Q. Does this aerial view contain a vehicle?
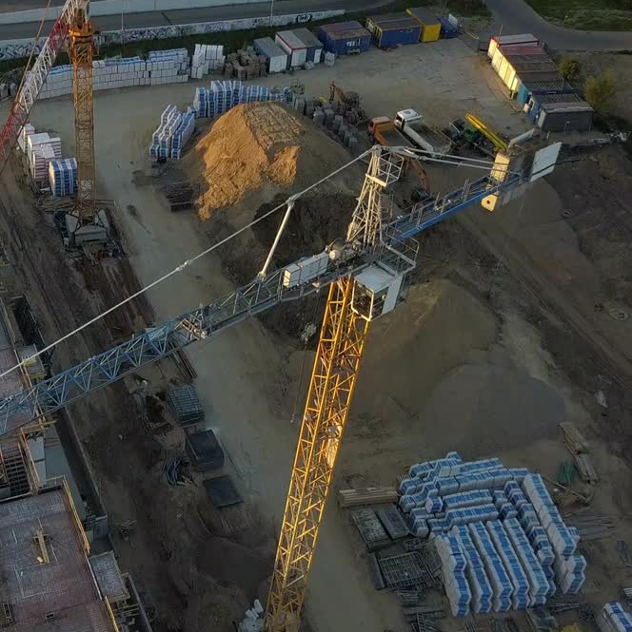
Yes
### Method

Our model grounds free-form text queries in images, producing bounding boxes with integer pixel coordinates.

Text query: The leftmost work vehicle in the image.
[302,80,383,125]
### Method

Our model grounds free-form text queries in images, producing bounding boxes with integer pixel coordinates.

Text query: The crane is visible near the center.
[0,120,563,632]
